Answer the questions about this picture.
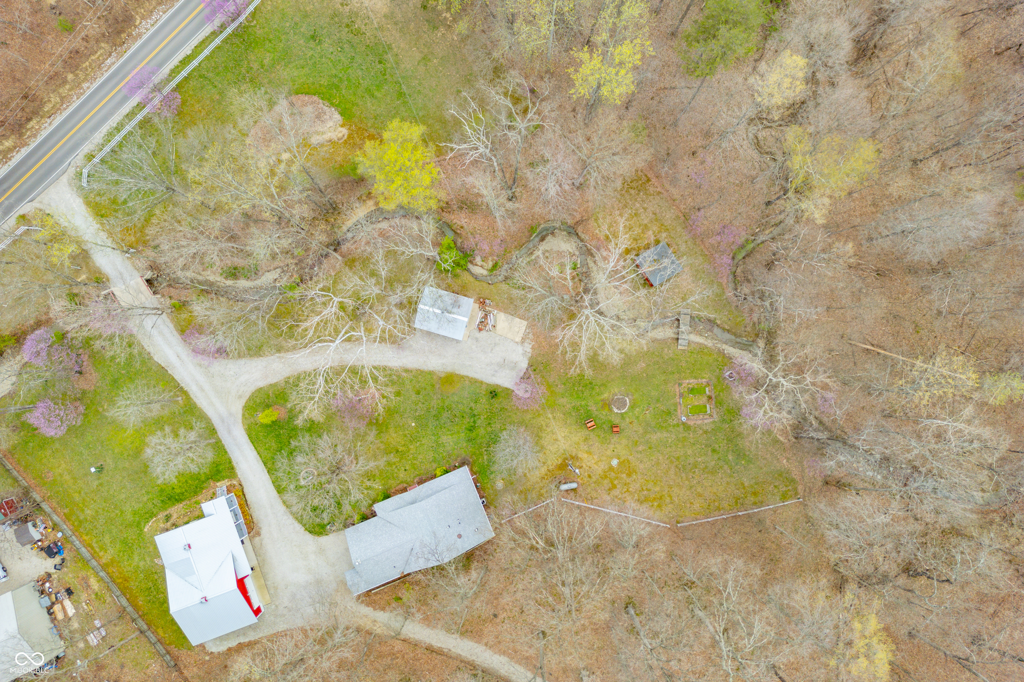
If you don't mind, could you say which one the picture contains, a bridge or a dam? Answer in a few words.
bridge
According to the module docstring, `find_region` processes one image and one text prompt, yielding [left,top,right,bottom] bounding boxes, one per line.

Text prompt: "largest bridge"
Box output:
[101,274,158,309]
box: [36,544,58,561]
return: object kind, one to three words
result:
vehicle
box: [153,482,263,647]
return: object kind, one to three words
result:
house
